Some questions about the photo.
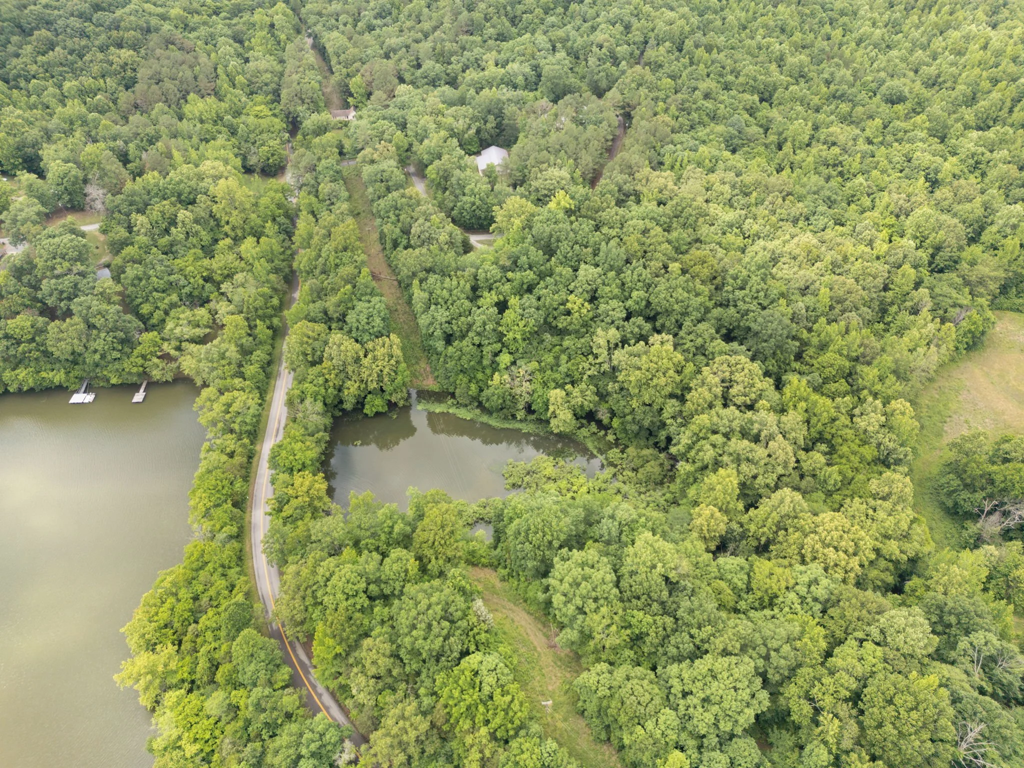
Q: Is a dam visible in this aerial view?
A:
No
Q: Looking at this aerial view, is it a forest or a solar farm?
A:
forest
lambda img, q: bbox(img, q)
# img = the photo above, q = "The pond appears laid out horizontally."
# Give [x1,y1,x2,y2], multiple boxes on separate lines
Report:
[323,389,649,537]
